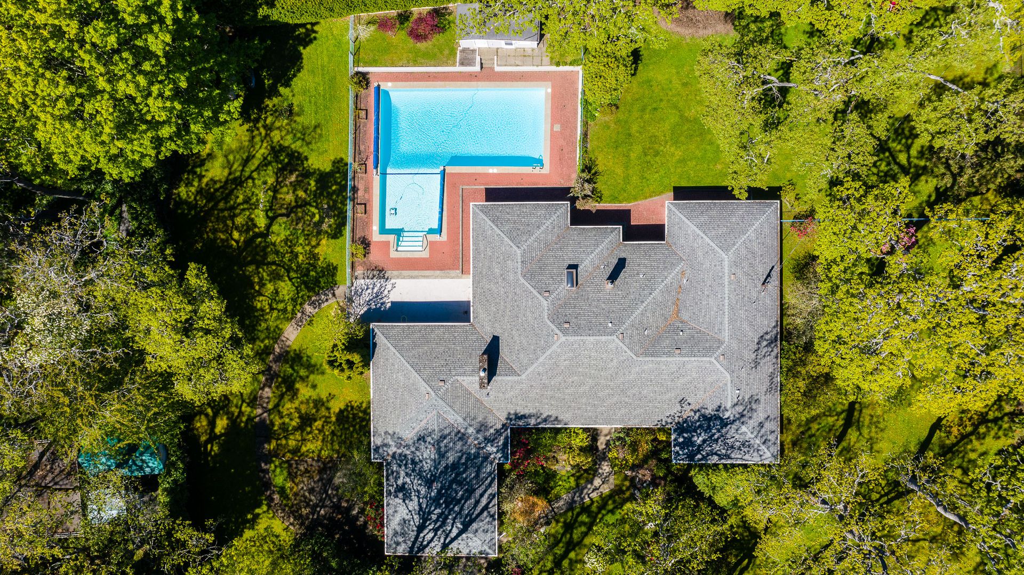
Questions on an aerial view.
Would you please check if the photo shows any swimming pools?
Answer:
Yes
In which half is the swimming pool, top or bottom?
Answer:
top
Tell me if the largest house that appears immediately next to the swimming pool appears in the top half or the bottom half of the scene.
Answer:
bottom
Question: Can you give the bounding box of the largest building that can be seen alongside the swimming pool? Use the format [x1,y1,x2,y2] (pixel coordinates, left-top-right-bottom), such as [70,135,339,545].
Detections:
[369,199,781,557]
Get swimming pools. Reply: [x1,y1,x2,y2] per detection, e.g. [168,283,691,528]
[373,82,551,257]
